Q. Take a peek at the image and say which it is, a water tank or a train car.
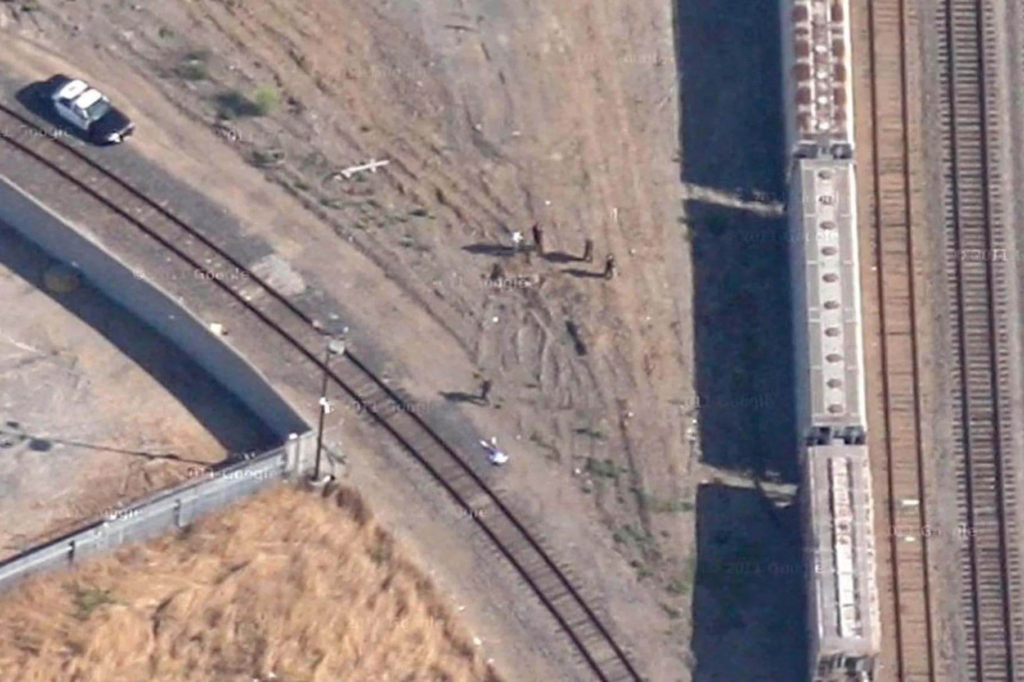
train car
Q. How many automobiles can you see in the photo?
one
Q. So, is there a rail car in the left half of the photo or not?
No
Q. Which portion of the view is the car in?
top left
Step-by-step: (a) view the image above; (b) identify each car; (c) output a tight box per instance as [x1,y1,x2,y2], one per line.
[33,69,133,144]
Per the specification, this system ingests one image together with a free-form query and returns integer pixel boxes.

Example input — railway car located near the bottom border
[804,443,884,682]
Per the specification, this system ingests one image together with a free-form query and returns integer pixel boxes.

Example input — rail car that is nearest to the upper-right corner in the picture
[783,0,854,192]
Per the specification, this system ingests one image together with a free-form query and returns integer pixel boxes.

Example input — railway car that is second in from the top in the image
[790,157,869,480]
